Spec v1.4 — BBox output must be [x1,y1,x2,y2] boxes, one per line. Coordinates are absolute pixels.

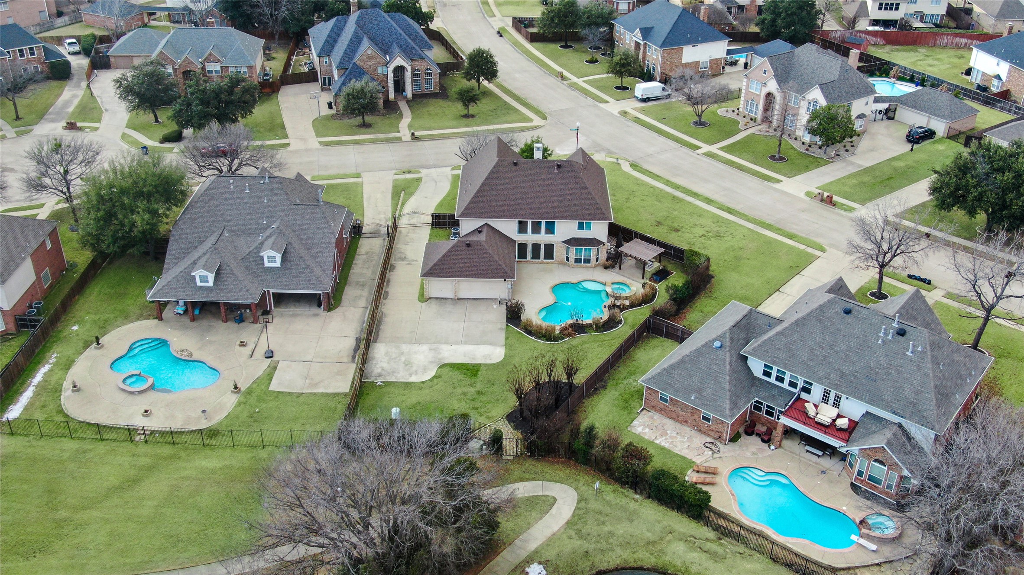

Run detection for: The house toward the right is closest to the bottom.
[637,277,987,500]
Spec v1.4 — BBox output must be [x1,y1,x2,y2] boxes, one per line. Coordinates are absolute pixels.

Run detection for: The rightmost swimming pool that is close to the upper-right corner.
[869,79,923,95]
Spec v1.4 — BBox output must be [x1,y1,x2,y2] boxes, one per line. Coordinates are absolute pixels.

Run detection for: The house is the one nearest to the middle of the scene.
[417,136,613,300]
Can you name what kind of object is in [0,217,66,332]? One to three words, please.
house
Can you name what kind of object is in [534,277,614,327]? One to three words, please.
swimming pool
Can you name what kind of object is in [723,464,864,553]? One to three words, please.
swimming pool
